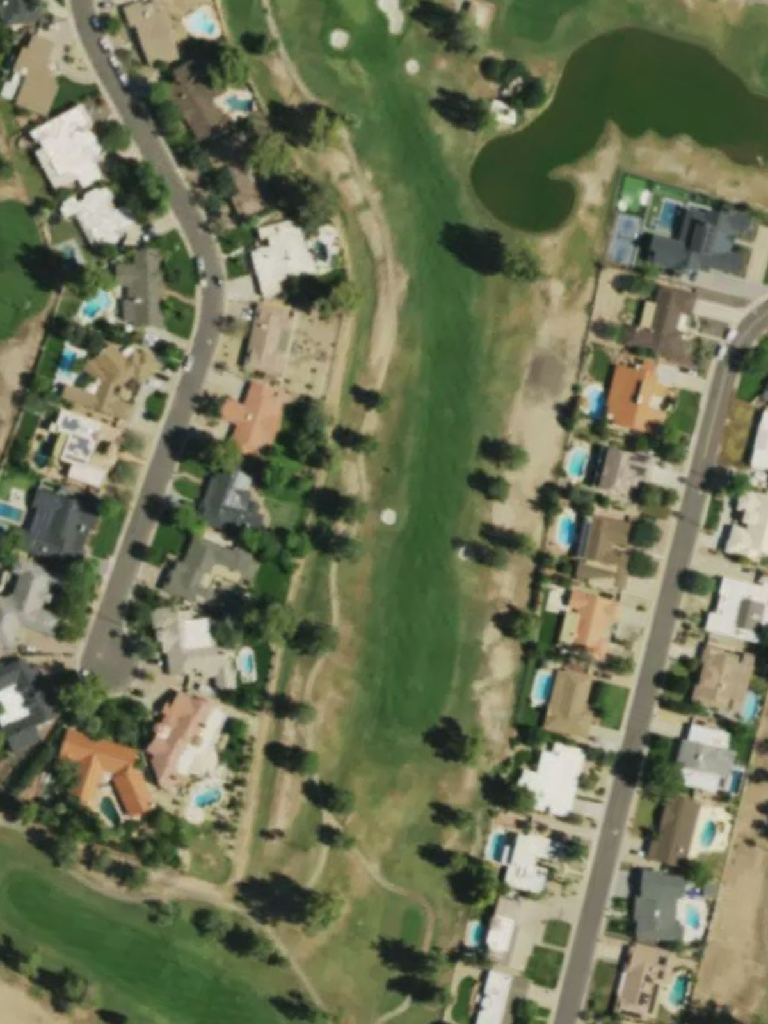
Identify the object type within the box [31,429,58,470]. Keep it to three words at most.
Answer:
swimming pool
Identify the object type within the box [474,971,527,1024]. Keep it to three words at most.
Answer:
house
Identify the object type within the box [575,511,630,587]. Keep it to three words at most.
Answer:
house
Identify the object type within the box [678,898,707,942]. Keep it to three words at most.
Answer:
swimming pool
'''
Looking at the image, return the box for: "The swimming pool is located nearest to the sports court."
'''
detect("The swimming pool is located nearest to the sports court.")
[657,197,686,234]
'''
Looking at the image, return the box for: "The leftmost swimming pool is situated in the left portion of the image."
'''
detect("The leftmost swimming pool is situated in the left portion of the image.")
[0,488,26,523]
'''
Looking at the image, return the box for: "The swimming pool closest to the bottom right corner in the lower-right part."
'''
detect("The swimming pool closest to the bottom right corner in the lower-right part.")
[665,970,692,1013]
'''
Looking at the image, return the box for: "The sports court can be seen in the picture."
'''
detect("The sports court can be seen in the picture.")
[608,214,642,264]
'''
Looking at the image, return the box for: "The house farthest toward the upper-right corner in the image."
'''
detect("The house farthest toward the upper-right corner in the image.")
[648,207,757,274]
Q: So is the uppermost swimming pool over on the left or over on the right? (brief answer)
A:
left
